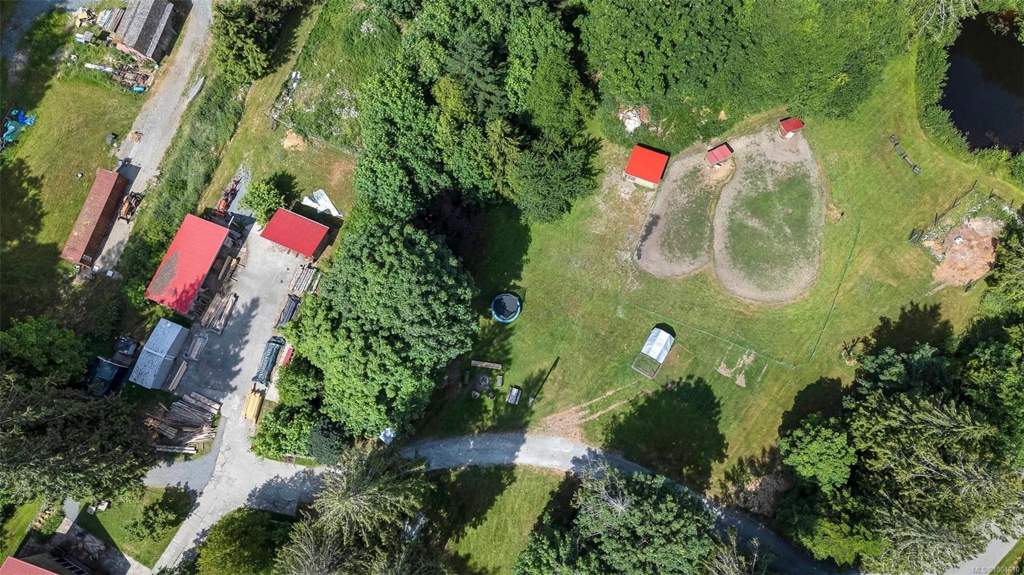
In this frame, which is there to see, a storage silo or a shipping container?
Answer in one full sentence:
Looking from above, you can make out a shipping container.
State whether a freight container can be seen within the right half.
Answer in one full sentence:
No, I can find no freight container within the right half.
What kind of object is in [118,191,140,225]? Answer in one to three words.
work vehicle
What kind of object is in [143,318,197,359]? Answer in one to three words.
shed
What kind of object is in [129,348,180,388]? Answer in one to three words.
shed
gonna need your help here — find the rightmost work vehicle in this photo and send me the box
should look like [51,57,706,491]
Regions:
[214,175,232,215]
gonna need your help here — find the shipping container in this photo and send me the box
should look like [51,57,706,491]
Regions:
[62,167,129,265]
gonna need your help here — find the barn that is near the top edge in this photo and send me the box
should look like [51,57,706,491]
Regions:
[114,0,193,71]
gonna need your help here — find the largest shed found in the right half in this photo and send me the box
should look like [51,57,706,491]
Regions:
[624,144,670,185]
